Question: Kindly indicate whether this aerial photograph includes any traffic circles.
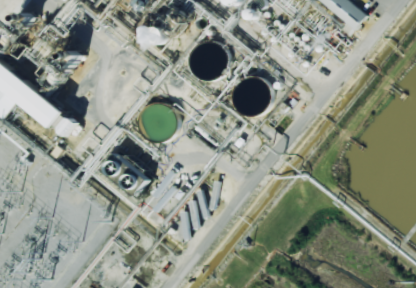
No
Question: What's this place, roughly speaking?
industrial area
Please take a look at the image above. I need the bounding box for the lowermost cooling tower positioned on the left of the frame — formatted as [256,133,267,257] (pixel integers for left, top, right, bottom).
[96,154,157,206]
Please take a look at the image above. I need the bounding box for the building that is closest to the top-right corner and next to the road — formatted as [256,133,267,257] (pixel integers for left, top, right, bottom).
[316,0,369,33]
